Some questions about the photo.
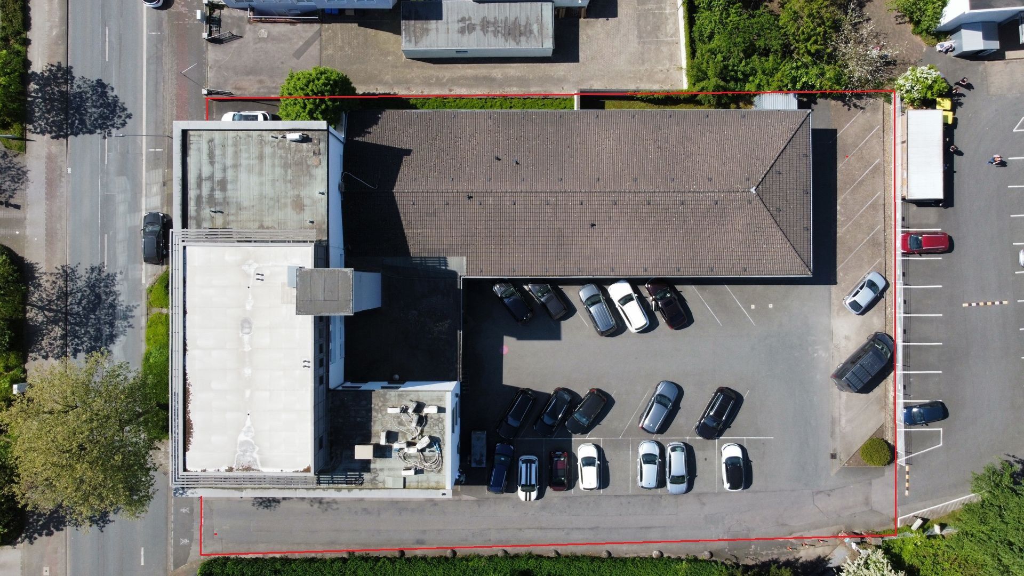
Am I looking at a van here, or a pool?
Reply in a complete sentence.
Of the two, only a van appears.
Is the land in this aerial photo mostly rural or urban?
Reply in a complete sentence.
It looks urban.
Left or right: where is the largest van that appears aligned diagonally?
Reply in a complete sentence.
The largest van that appears aligned diagonally sits on the right side.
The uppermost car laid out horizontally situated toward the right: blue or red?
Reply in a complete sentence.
In this view, the uppermost car laid out horizontally situated toward the right is red.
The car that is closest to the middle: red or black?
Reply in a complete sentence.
The car that is closest to the middle is black.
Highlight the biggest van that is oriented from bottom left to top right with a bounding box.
[836,334,894,393]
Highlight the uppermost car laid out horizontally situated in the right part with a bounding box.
[900,230,952,255]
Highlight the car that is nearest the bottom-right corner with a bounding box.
[903,400,948,426]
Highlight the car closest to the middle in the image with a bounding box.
[495,281,531,325]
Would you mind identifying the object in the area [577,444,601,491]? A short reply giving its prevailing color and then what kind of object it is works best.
white car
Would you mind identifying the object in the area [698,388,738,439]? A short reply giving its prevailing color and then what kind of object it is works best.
black car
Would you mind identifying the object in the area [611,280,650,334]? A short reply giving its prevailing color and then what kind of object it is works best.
white car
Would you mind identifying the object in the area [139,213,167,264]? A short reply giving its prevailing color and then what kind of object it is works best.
black car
